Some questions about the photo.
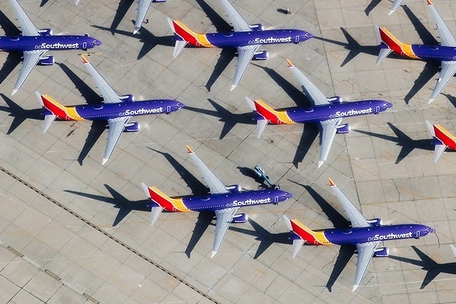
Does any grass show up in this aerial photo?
No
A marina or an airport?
airport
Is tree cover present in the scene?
No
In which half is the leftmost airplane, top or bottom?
top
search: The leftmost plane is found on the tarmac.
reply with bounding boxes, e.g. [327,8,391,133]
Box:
[0,0,100,95]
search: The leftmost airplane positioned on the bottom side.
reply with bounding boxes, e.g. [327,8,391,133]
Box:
[140,146,292,259]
